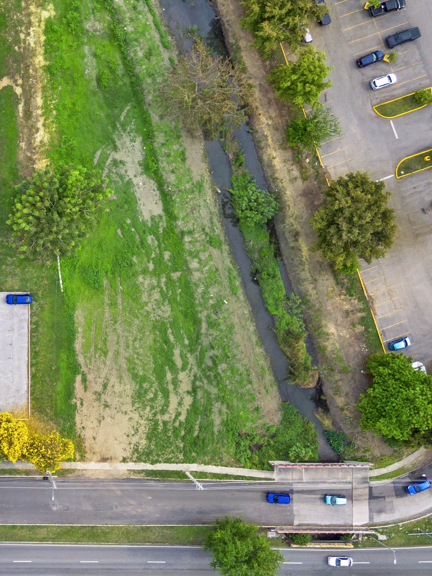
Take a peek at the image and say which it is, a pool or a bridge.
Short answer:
bridge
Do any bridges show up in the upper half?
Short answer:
No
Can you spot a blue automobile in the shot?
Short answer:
Yes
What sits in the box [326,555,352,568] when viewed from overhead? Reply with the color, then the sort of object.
white vehicle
